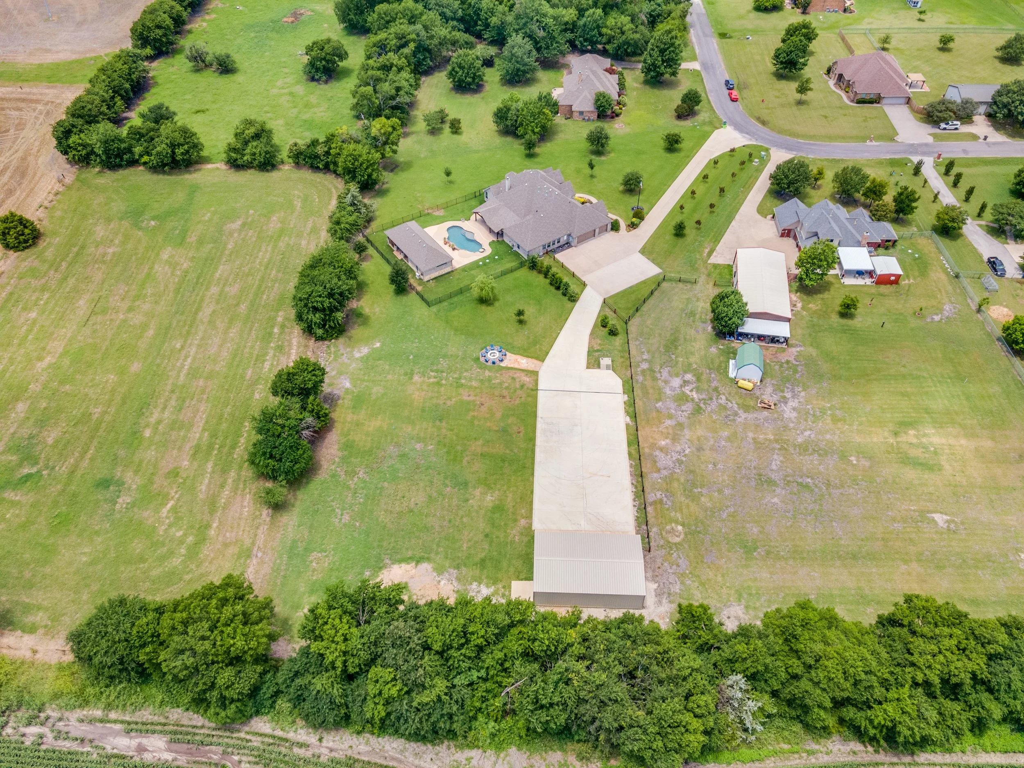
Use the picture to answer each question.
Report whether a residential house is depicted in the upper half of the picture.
Yes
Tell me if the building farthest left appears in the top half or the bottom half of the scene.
top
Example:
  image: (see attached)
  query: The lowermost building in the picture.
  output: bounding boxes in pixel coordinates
[534,526,648,610]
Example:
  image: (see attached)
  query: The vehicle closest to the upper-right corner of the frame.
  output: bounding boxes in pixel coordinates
[938,118,964,130]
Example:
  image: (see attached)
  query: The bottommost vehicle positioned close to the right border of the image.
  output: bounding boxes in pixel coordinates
[984,253,1012,279]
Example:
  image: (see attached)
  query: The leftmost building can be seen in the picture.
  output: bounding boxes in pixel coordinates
[384,221,454,282]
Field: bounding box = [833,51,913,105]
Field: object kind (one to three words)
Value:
house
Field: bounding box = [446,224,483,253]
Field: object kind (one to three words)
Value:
swimming pool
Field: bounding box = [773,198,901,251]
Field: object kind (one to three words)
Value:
house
